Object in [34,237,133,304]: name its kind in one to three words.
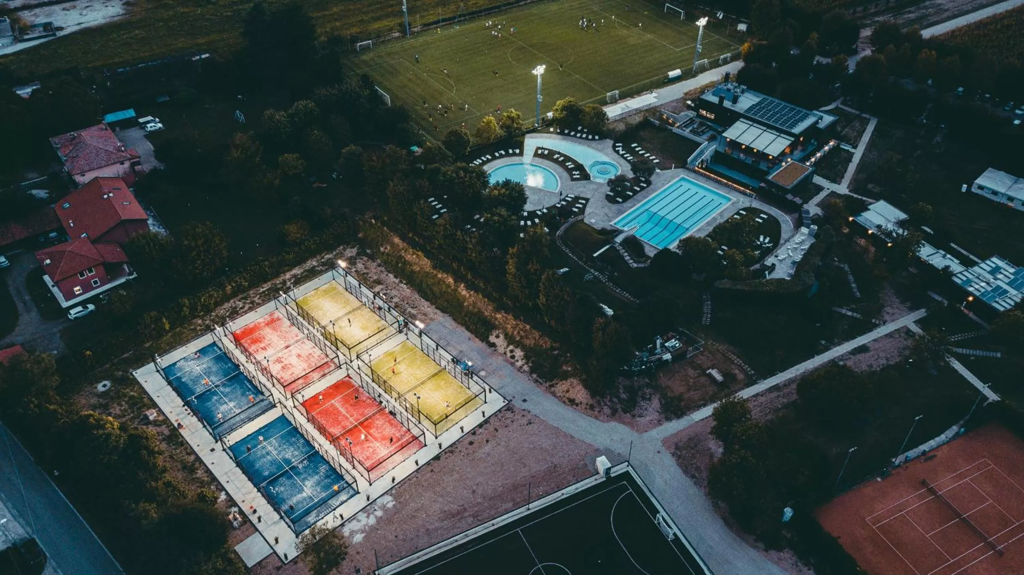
house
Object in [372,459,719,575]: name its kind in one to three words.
soccer field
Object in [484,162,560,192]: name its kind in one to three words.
swimming pool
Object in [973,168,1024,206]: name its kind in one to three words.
tent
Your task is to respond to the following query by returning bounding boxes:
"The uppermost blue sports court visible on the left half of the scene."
[151,324,276,441]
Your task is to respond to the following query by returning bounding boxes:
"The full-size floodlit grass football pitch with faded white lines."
[326,0,742,157]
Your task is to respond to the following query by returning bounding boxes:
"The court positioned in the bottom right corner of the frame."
[814,428,1024,575]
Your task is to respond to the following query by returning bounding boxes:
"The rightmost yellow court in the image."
[356,321,486,438]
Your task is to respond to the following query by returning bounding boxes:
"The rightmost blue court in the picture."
[218,398,359,536]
